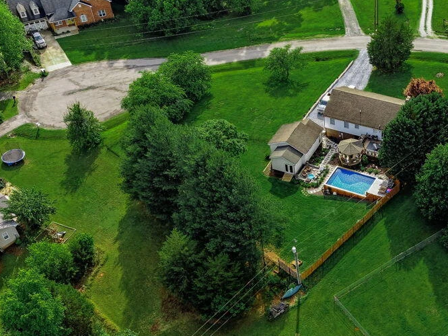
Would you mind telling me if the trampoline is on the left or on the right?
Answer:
left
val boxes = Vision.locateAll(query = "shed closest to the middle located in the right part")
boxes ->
[268,118,326,180]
